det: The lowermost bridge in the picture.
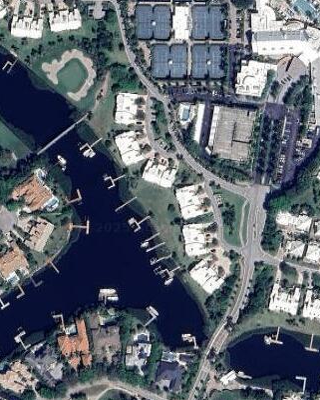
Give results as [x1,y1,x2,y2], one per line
[201,321,232,365]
